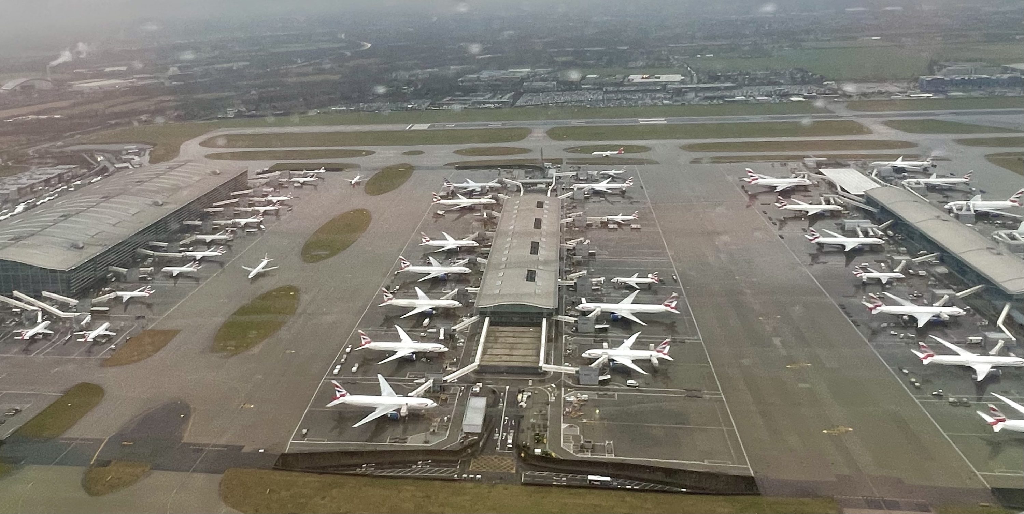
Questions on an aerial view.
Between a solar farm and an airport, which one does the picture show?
airport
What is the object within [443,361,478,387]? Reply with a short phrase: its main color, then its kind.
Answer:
white jet bridge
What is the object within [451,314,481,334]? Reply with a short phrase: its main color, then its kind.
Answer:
white jet bridge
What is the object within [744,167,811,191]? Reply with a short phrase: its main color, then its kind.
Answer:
white airplane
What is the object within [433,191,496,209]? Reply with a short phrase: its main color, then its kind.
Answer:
white airplane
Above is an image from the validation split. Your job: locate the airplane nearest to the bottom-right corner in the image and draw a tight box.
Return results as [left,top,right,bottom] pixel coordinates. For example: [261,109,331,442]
[979,392,1024,432]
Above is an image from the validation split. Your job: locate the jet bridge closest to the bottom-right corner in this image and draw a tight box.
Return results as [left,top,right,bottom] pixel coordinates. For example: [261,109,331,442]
[986,340,1005,357]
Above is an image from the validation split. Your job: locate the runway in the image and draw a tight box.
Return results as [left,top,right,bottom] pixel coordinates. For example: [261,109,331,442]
[398,108,1024,130]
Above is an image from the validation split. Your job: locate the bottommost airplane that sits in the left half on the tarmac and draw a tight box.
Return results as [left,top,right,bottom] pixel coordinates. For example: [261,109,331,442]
[327,375,437,430]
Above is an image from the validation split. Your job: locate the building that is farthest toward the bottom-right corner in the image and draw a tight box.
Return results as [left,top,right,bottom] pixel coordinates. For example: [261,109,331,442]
[981,331,1014,352]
